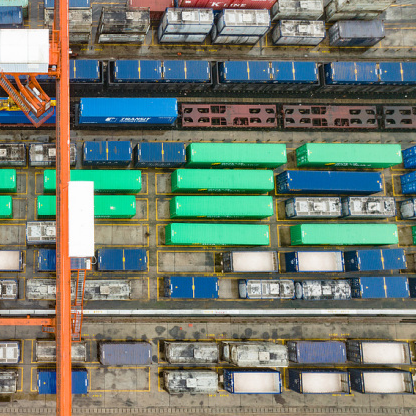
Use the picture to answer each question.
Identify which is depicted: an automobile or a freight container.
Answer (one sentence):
The one in the frame is a freight container.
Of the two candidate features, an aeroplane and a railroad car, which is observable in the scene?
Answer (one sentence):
I can see a railroad car in this picture.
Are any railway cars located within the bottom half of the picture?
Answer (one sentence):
No, I can find no railway car within the bottom half of the picture.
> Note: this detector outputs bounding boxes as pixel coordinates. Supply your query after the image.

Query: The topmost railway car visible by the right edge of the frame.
[316,61,416,92]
